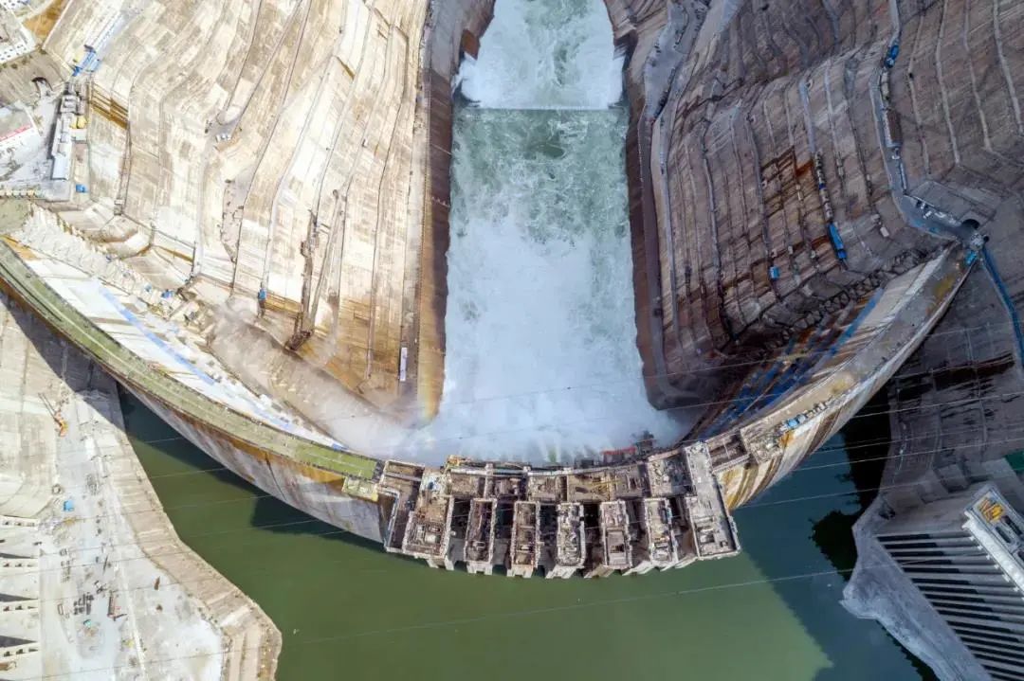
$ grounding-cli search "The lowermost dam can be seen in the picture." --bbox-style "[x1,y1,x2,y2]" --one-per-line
[0,233,975,579]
